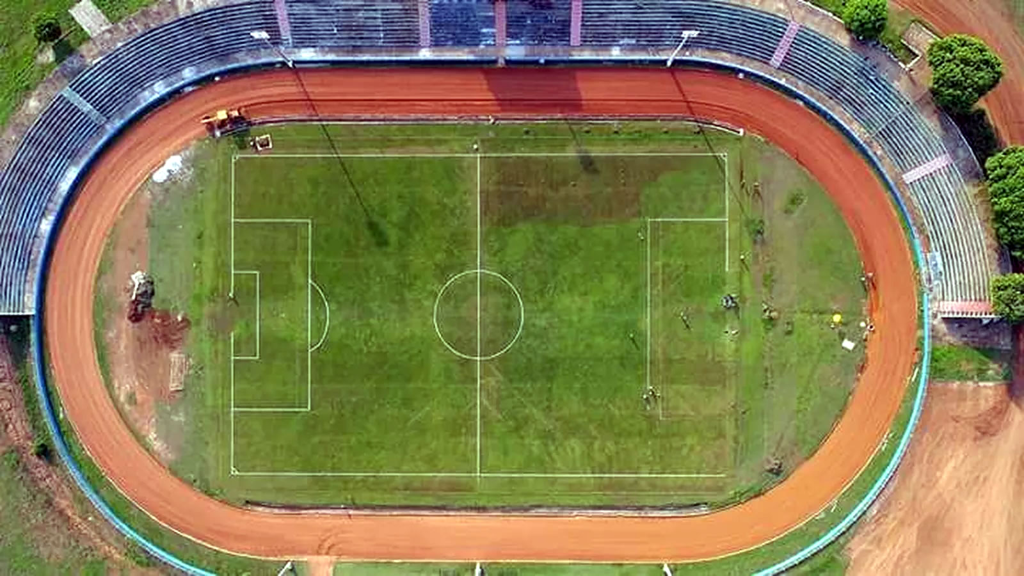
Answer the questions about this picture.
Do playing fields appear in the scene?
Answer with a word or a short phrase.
Yes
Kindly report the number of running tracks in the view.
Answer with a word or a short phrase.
1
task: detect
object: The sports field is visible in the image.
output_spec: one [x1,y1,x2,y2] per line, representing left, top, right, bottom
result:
[225,146,734,484]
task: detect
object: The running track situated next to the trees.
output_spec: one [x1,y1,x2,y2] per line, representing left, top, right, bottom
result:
[45,67,918,565]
